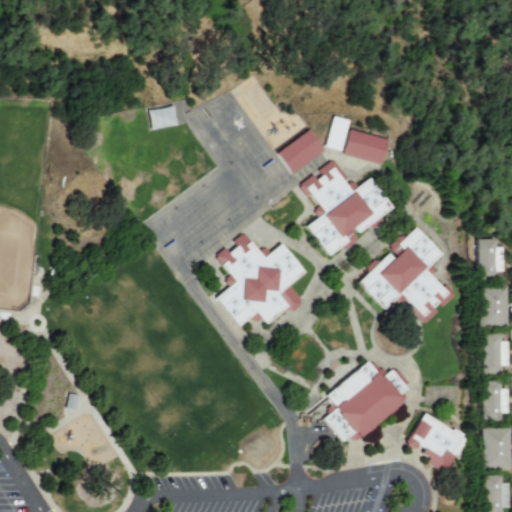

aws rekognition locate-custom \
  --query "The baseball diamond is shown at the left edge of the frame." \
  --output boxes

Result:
[0,101,47,309]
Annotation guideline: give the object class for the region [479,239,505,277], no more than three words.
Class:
house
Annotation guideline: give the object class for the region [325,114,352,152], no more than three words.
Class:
building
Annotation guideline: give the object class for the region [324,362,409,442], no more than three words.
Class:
building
